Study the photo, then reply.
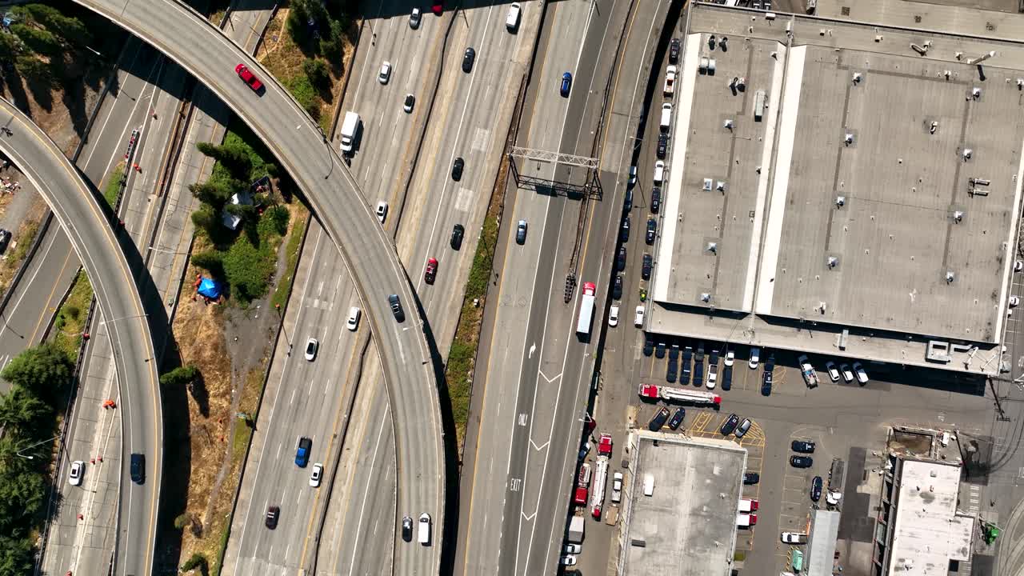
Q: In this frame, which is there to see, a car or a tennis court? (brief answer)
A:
car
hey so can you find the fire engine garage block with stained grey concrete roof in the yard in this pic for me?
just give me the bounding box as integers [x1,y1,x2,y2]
[616,430,748,576]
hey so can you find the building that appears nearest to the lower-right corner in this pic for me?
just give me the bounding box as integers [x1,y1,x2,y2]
[869,455,974,576]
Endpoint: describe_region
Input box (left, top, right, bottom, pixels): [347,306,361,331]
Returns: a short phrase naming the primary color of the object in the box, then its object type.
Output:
white car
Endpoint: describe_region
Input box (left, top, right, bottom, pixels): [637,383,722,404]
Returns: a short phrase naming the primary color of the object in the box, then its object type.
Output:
white truck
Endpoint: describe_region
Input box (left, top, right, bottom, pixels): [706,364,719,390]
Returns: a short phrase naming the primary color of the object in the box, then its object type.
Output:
white vehicle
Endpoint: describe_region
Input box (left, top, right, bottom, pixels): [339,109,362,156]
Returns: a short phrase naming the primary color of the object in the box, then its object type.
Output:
white truck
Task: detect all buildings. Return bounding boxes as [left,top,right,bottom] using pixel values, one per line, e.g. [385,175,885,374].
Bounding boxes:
[797,504,840,576]
[616,430,748,576]
[869,455,974,576]
[640,1,1024,375]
